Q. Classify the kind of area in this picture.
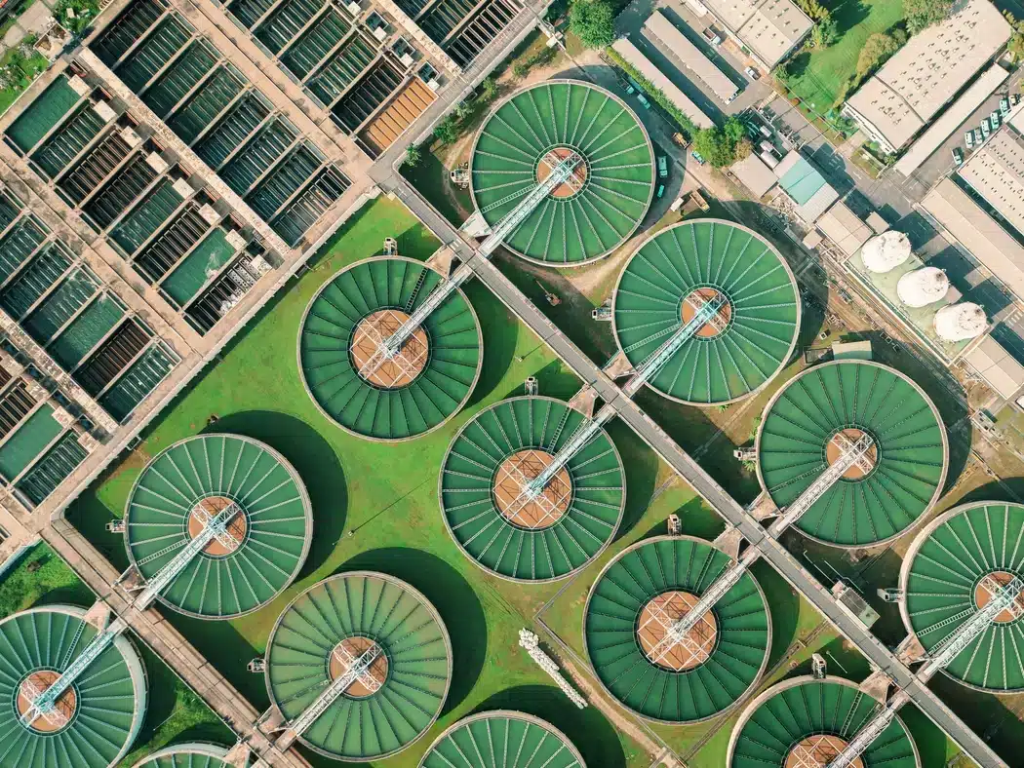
industrial area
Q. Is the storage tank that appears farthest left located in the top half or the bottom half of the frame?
bottom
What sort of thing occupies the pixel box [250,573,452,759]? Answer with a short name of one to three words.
storage tank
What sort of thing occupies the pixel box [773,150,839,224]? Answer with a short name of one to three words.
building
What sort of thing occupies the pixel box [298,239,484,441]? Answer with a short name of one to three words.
storage tank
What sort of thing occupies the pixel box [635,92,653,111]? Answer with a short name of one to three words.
vehicle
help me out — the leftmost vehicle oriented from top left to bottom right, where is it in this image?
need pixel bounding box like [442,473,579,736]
[536,280,561,306]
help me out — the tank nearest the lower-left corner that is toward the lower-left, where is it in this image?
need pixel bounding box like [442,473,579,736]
[0,597,152,768]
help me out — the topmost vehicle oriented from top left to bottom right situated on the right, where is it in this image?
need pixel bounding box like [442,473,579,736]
[700,24,723,47]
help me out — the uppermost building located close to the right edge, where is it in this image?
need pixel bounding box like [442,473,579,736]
[847,0,1014,150]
